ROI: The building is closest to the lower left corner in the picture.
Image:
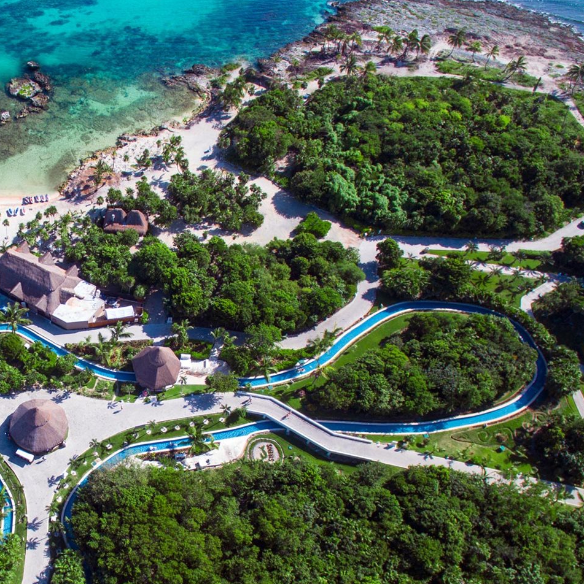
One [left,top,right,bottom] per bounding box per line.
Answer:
[9,404,67,458]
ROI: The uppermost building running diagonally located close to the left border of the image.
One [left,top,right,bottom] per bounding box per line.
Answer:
[0,242,105,332]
